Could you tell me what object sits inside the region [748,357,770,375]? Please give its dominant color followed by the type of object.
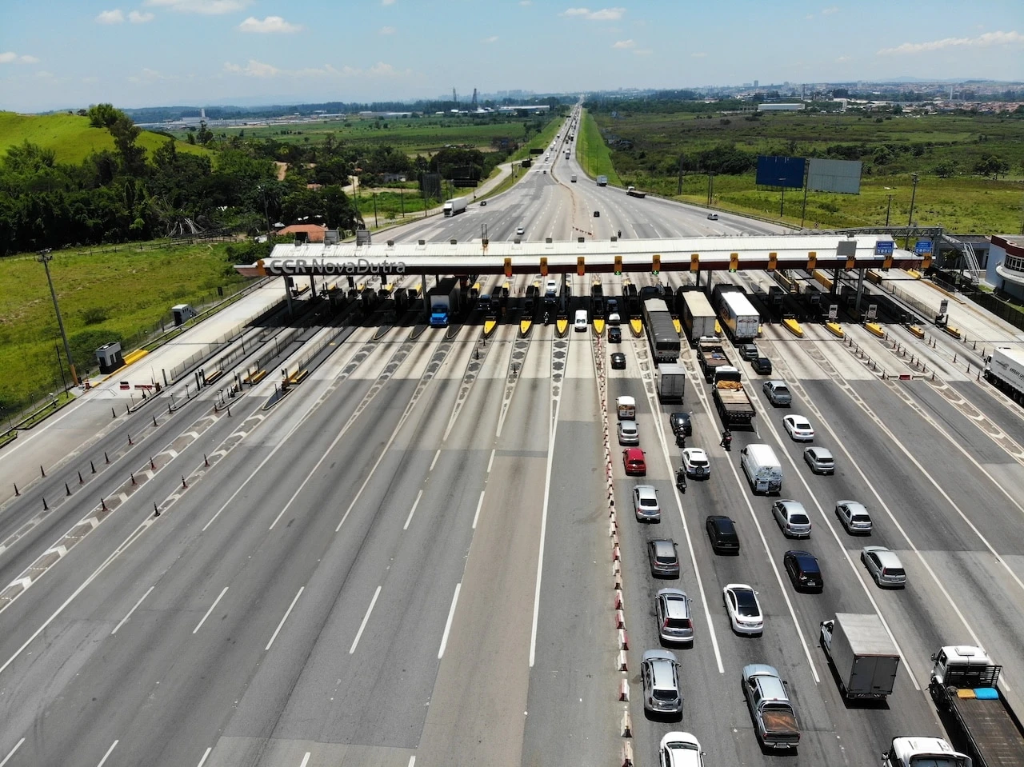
black car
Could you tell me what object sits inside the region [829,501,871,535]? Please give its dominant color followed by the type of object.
gray car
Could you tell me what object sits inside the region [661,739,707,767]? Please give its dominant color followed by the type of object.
white car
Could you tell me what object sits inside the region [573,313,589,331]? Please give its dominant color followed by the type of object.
white vehicle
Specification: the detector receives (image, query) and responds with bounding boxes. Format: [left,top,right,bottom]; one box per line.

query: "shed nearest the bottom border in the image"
[87,345,127,378]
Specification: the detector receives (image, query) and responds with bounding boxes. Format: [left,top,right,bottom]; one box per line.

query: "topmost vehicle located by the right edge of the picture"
[982,351,1024,401]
